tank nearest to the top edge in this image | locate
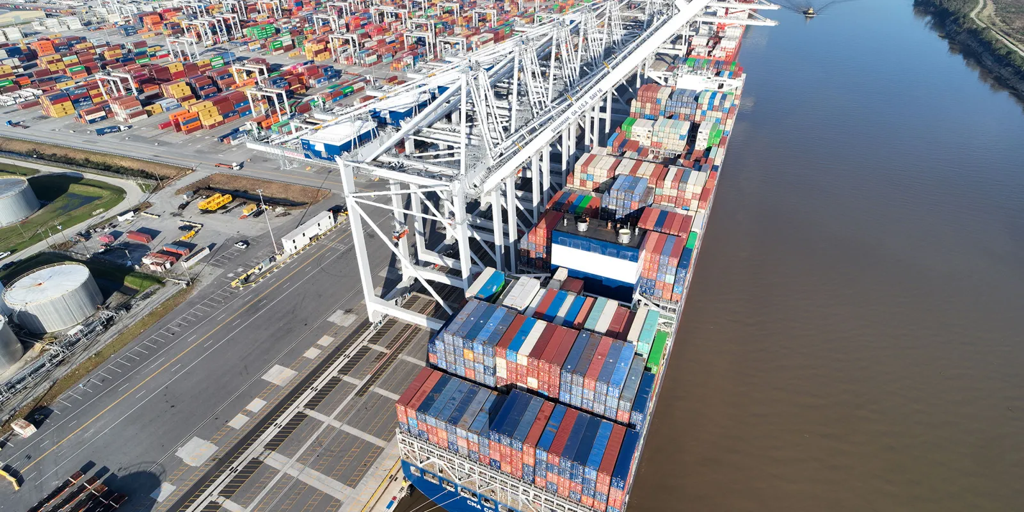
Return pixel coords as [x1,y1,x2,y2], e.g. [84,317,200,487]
[0,174,42,226]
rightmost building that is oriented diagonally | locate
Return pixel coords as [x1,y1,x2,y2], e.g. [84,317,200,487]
[279,211,334,253]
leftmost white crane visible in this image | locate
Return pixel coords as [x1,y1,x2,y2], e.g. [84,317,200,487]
[94,70,146,106]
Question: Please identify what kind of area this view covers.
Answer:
port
